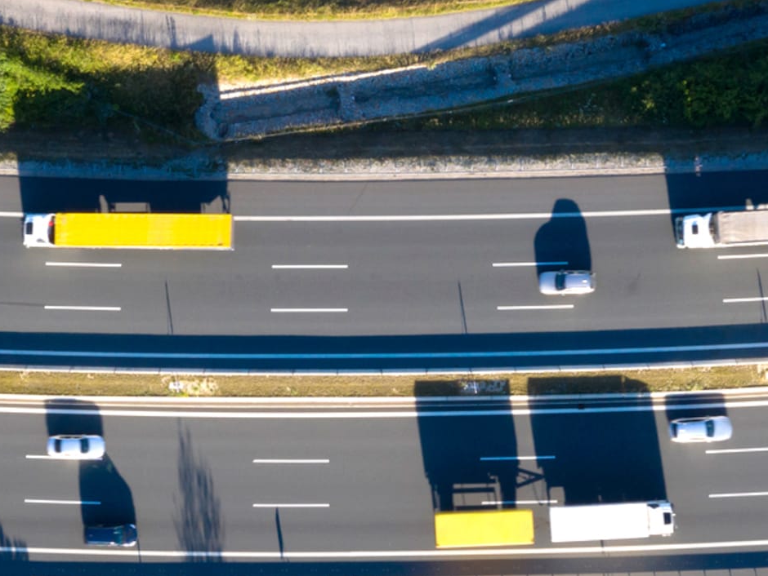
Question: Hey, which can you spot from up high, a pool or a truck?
truck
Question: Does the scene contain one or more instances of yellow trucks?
Yes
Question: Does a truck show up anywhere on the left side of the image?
Yes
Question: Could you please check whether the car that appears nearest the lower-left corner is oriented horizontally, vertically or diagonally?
horizontally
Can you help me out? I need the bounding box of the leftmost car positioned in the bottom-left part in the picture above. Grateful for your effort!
[48,434,106,461]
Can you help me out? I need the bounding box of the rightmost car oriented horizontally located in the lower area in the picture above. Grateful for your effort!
[672,415,733,442]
